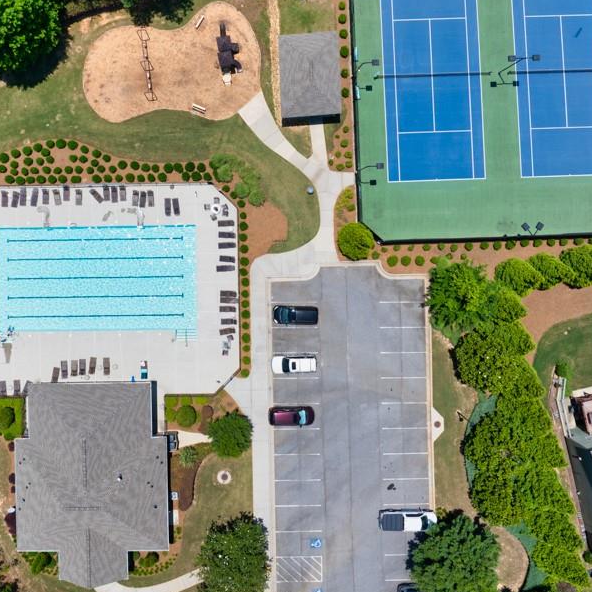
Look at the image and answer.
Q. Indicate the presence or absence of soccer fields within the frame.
No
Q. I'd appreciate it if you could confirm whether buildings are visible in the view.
Yes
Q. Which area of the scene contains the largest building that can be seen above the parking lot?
top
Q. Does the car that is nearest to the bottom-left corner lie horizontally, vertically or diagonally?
horizontally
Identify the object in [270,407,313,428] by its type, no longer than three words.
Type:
car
